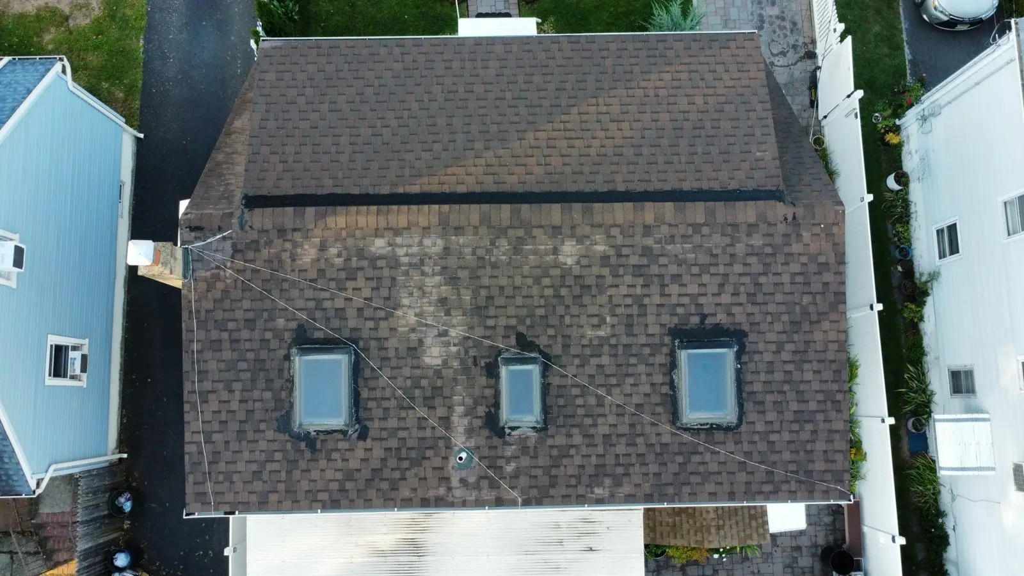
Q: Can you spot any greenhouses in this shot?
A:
No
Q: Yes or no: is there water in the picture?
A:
No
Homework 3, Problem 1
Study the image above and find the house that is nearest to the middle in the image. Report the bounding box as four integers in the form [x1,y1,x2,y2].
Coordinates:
[127,27,853,520]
